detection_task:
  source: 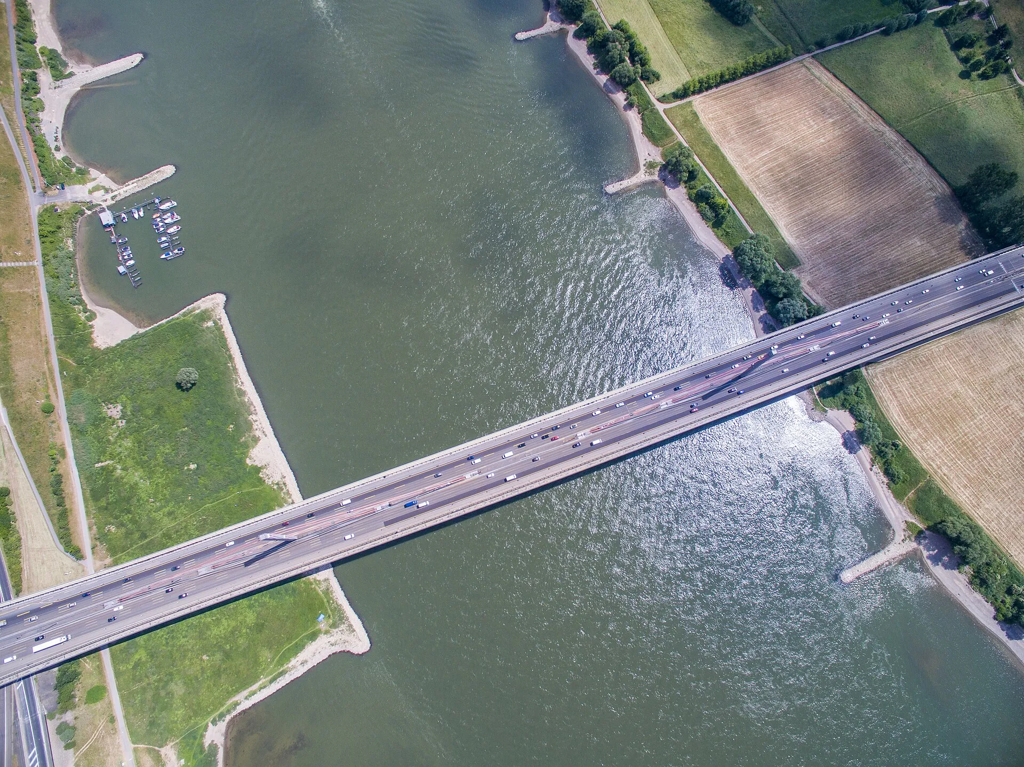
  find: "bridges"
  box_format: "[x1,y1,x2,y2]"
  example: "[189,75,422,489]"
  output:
[0,243,1024,689]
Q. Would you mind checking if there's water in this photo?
Yes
